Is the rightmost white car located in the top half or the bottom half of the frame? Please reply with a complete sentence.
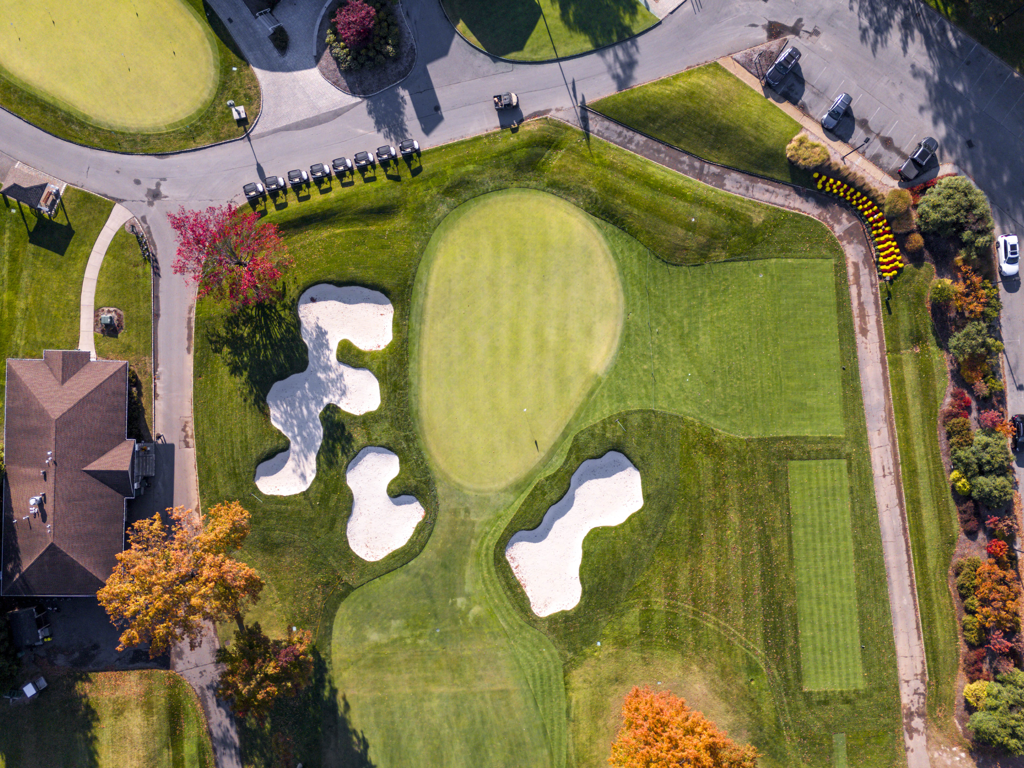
The rightmost white car is in the top half of the image.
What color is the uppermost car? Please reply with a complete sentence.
The uppermost car looks black in the image.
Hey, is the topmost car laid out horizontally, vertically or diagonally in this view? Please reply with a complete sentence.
What the image shows is the topmost car lying diagonally.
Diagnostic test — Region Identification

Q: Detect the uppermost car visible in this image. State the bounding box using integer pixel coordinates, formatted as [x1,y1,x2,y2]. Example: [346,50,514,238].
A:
[764,43,804,86]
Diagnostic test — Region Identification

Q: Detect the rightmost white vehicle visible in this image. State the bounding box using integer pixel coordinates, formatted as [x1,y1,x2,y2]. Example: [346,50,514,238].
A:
[994,235,1022,278]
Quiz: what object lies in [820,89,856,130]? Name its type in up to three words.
car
